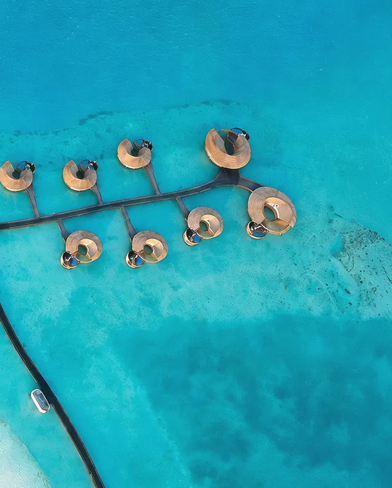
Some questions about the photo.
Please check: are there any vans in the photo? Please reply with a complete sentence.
No, I can see no van in this picture.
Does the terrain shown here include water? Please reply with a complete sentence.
Yes, some water is visible.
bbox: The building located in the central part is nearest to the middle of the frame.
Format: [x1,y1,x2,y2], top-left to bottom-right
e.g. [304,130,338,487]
[182,209,224,246]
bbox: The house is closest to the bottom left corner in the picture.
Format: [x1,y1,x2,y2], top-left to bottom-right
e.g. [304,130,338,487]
[62,232,102,269]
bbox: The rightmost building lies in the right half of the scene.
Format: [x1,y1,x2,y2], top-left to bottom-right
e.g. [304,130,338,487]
[245,189,298,239]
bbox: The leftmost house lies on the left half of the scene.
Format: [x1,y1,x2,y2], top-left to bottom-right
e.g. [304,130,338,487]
[0,161,34,193]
